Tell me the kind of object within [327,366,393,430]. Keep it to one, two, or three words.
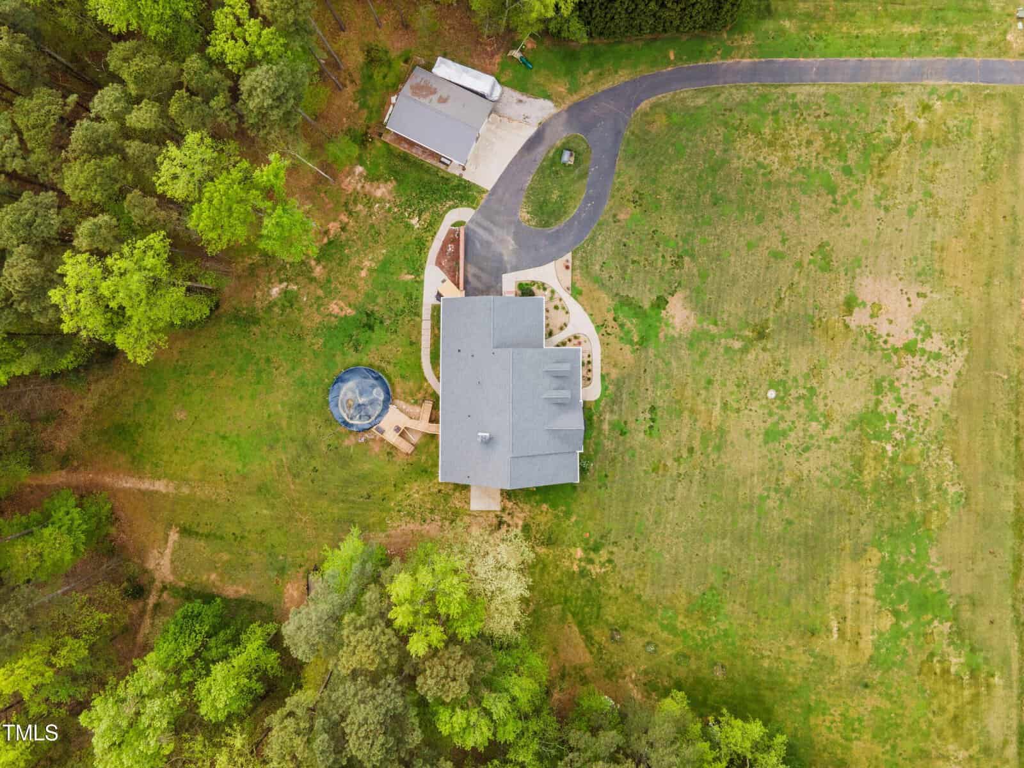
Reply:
swimming pool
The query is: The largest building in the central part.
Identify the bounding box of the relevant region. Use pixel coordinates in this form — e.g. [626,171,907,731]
[438,296,586,489]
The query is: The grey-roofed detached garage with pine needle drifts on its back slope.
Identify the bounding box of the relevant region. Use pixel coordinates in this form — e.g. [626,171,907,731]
[388,64,494,166]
